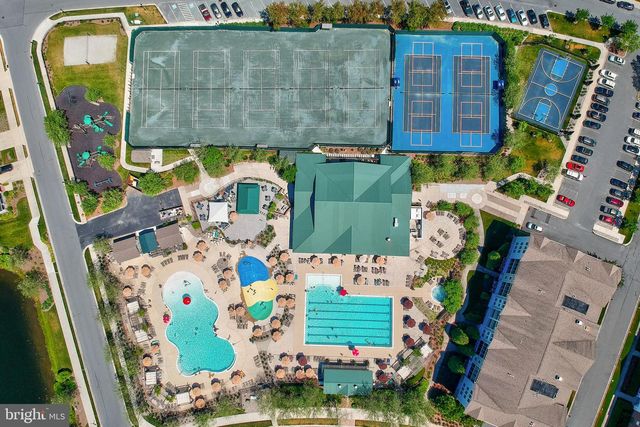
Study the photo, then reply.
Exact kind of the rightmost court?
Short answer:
basketball court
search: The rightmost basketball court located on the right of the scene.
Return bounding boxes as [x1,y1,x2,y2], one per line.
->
[513,49,588,131]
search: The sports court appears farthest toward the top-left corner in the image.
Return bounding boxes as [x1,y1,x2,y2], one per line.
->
[64,29,117,66]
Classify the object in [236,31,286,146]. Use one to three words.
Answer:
tennis court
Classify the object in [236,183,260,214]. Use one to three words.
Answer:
building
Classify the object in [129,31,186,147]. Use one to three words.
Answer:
tennis court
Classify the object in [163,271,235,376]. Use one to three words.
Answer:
swimming pool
